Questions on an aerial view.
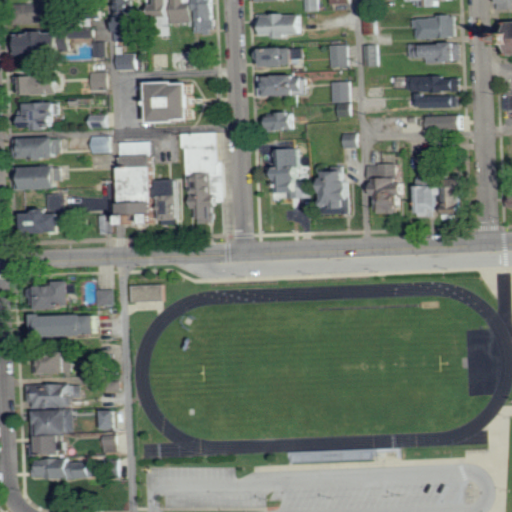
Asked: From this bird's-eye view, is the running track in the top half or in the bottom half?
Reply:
bottom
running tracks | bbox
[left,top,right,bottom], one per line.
[136,274,512,458]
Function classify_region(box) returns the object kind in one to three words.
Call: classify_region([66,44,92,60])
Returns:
swimming pool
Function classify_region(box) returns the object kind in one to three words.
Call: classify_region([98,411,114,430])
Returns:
building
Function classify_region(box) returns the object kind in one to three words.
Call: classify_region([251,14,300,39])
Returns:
house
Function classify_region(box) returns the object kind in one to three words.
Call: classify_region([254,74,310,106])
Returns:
house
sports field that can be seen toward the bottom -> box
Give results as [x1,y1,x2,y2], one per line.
[150,296,492,441]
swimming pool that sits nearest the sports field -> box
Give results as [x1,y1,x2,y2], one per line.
[83,281,96,306]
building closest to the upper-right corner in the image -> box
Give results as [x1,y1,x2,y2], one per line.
[478,23,512,56]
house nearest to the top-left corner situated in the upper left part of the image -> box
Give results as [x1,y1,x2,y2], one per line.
[12,3,40,28]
